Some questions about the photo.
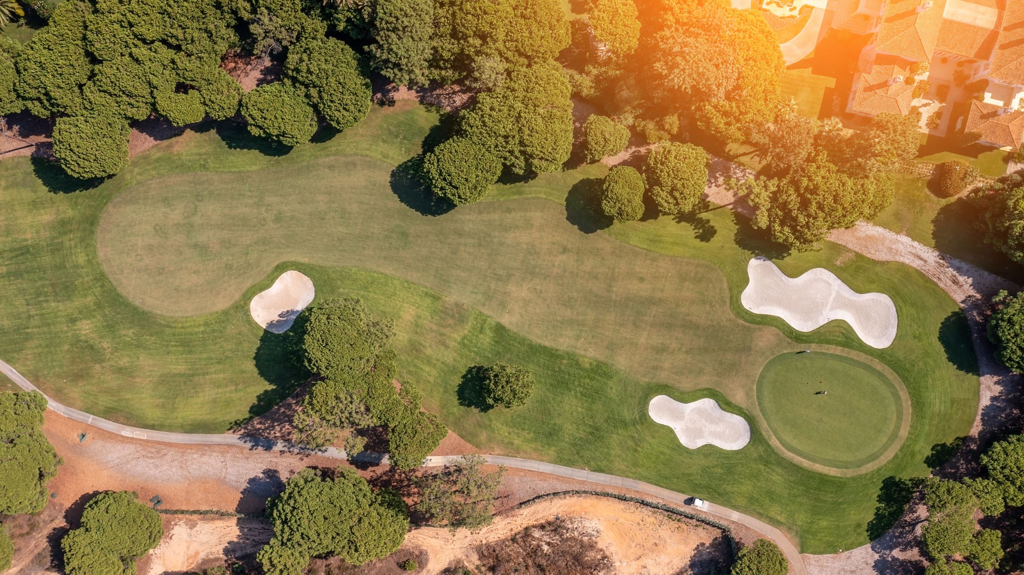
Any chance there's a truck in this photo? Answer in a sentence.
No, no truck is visible in the view.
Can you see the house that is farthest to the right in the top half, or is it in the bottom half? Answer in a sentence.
The top half of the photo is where the house that is farthest to the right is.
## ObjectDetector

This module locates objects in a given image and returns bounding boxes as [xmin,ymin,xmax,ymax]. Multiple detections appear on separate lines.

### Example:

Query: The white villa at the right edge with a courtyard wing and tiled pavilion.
[933,0,1024,148]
